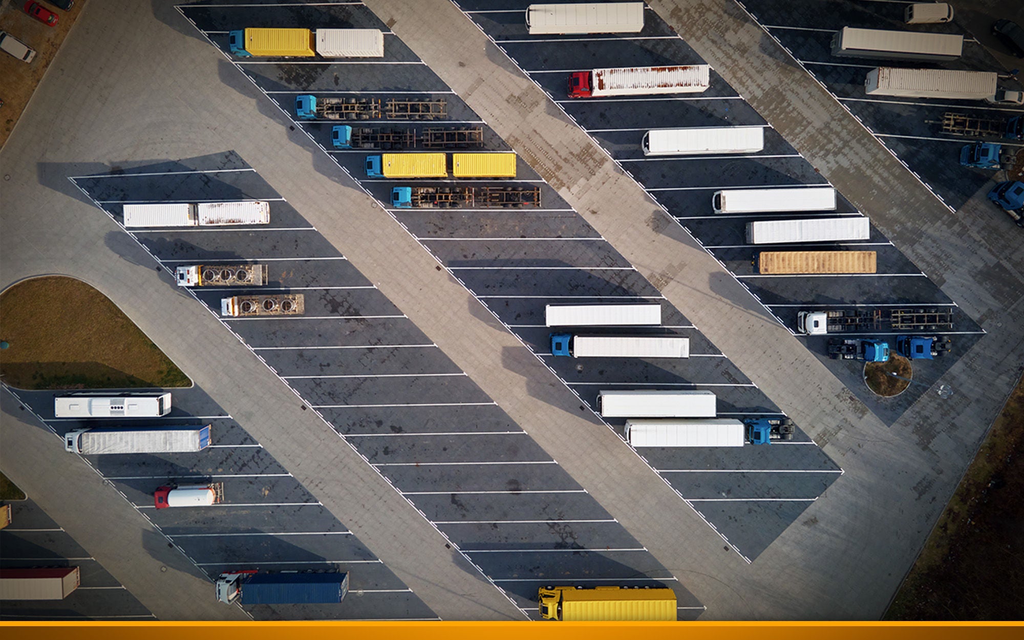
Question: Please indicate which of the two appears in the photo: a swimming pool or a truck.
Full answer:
Looking from above, you can make out a truck.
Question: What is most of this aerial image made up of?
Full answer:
For the most part, this view shows paved ground.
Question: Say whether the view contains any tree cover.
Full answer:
No, no tree cover is visible.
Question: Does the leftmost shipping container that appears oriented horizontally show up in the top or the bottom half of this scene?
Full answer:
The leftmost shipping container that appears oriented horizontally is in the bottom half of the image.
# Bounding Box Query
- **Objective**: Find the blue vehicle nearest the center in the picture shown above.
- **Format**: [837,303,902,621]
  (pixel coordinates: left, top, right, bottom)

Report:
[551,334,574,357]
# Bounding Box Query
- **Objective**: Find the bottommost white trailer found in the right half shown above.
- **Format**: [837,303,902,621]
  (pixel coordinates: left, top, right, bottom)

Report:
[625,418,743,446]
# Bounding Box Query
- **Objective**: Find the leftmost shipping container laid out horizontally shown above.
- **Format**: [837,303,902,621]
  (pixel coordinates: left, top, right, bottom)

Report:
[0,568,77,600]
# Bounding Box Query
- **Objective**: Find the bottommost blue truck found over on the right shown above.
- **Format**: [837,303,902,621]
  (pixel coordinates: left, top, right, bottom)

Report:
[741,418,793,445]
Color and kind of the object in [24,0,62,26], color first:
red car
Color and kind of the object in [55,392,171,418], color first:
white bus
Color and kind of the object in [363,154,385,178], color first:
blue truck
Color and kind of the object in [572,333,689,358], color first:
white trailer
